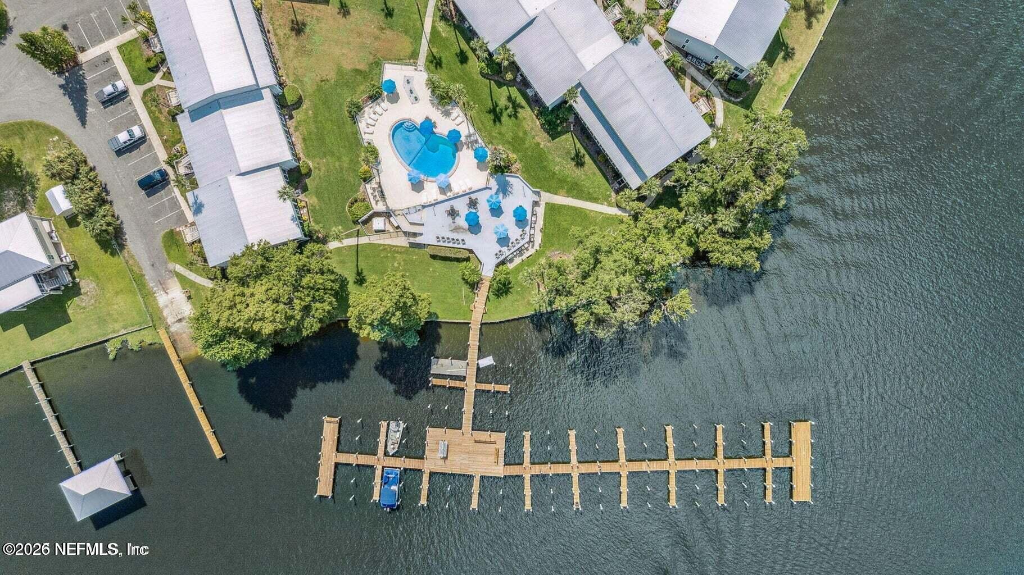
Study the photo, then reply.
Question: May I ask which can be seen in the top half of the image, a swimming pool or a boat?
swimming pool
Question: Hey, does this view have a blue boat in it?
Yes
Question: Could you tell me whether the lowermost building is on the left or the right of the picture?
left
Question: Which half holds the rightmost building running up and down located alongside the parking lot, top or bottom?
top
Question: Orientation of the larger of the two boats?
from top to bottom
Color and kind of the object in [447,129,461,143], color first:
blue umbrella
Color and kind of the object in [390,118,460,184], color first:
blue swimming pool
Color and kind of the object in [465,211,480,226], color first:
blue umbrella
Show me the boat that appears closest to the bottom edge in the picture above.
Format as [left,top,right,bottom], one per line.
[379,467,399,511]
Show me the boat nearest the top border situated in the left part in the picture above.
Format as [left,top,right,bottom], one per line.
[388,419,404,454]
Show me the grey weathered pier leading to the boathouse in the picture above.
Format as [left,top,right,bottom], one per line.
[18,360,84,475]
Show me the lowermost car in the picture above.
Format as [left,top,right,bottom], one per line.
[136,170,167,189]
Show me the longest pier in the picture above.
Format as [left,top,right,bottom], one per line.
[314,275,814,512]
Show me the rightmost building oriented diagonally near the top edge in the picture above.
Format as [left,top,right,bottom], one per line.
[449,0,711,191]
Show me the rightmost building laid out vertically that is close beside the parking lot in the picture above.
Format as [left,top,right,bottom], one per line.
[148,0,308,267]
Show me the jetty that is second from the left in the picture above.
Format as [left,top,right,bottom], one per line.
[155,329,228,459]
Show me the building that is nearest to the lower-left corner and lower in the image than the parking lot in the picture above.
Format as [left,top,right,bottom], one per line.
[59,448,150,522]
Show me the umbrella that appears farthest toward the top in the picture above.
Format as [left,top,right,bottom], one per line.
[382,79,396,93]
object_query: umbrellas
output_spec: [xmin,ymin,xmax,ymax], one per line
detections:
[435,173,450,188]
[407,170,421,184]
[487,194,501,208]
[465,211,480,226]
[420,119,434,134]
[447,129,461,143]
[513,207,527,221]
[473,147,488,162]
[382,79,396,93]
[494,224,509,239]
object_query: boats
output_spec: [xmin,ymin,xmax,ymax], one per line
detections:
[388,419,404,454]
[379,467,399,511]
